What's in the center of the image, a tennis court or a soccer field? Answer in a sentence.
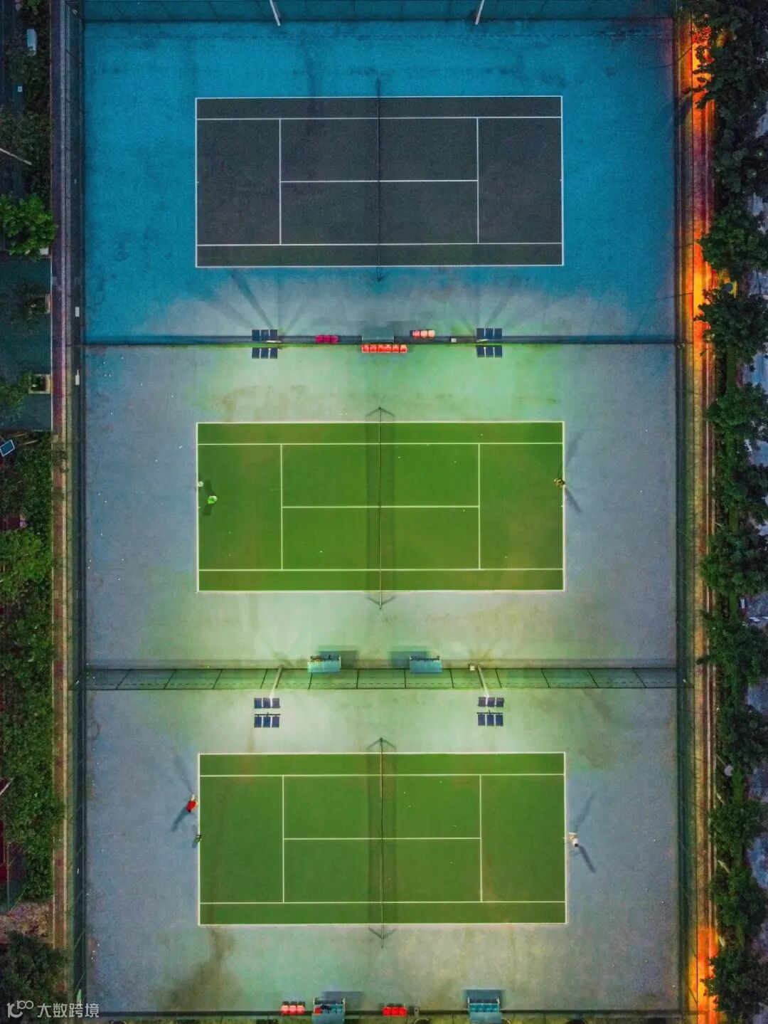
There is a tennis court in the center of the image.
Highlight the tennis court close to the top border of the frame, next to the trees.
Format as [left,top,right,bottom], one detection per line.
[83,0,674,345]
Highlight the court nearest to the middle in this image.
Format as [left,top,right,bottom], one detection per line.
[85,346,676,670]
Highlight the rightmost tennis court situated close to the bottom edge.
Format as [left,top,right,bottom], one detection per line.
[86,667,677,1014]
